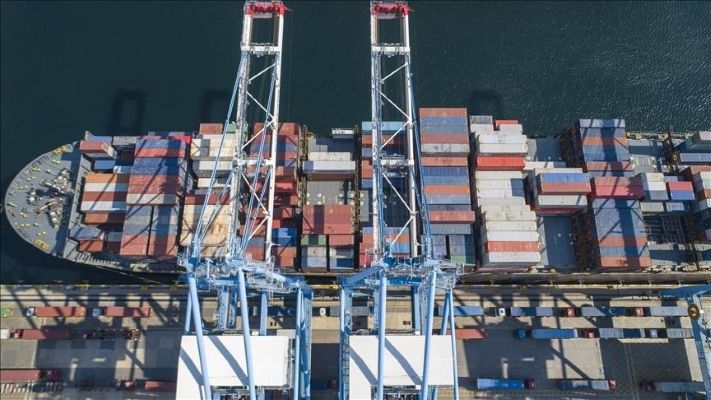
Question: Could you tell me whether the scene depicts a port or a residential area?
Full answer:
The picture captures a port.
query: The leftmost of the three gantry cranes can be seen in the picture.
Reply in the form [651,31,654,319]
[179,0,329,400]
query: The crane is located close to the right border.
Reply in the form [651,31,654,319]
[649,290,711,399]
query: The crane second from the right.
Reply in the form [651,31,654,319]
[333,0,467,400]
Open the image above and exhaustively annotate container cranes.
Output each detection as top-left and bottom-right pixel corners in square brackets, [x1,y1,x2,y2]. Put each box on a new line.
[333,0,467,400]
[649,290,711,399]
[179,0,329,400]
